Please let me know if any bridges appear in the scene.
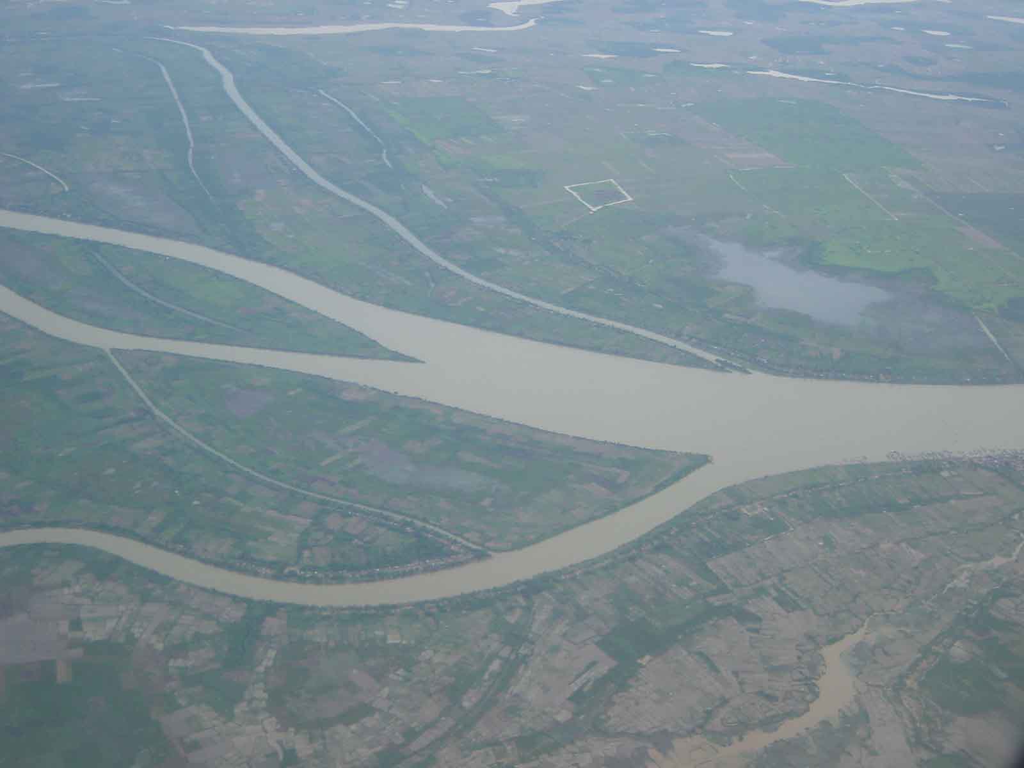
No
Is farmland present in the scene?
Yes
